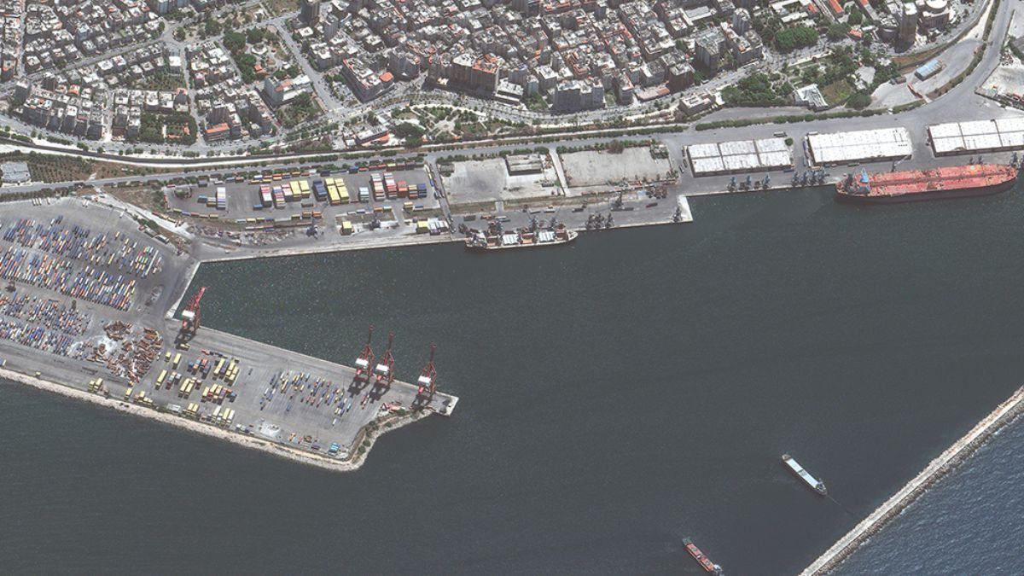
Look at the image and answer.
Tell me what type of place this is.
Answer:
port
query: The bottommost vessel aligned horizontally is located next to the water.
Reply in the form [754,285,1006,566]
[464,219,578,250]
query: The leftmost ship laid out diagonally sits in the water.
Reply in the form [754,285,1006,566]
[683,540,726,576]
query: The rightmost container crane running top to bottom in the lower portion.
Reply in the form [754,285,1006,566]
[415,342,436,402]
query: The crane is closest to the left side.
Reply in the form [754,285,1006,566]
[179,284,204,336]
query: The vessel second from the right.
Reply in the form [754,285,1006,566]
[781,454,829,499]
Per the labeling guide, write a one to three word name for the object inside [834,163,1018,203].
ship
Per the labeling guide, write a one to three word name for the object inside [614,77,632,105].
building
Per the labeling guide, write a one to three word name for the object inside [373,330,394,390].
container crane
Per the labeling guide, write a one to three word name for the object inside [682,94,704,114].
building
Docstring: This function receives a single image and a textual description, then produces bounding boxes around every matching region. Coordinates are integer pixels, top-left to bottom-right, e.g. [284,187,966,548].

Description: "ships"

[464,219,578,250]
[683,540,726,576]
[834,163,1018,203]
[781,454,829,499]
